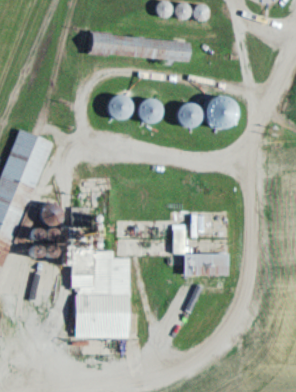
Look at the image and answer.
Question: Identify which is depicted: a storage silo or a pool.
storage silo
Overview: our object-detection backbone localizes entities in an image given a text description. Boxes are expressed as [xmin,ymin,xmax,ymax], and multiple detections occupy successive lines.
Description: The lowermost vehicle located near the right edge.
[240,10,284,28]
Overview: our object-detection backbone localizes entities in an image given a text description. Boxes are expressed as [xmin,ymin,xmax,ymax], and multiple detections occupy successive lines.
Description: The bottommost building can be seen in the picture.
[74,294,130,338]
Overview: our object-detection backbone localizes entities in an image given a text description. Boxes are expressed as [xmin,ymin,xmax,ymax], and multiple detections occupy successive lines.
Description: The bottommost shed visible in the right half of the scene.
[184,253,230,276]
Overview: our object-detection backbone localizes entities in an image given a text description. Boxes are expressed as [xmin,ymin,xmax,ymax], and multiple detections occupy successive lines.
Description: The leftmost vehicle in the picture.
[30,260,42,299]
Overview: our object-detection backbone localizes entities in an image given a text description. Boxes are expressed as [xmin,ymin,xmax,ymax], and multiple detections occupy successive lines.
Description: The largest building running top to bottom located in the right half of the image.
[172,224,186,254]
